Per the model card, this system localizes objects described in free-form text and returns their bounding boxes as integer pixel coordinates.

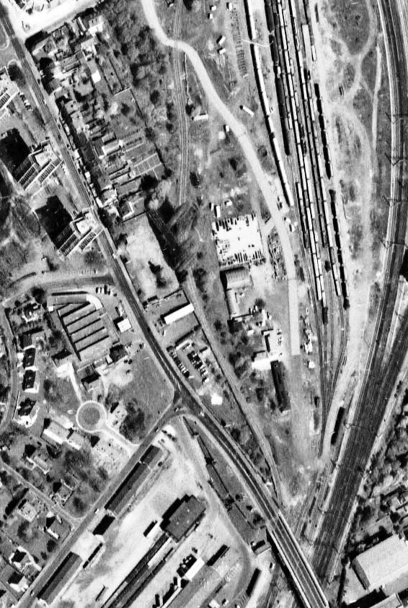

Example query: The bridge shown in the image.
[267,509,325,608]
